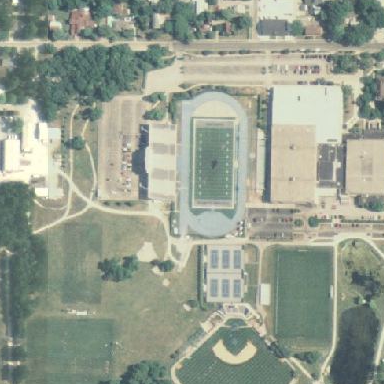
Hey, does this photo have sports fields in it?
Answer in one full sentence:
Yes, a sports field is visible in the scene.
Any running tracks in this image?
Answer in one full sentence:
Yes, the frame does contain a running track.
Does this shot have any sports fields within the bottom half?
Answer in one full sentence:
Yes, the scene does show a sports field within the bottom half.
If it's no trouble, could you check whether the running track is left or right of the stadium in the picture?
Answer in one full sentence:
The running track appears to the left of the stadium in this view.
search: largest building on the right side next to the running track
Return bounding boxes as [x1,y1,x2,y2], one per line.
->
[271,85,343,204]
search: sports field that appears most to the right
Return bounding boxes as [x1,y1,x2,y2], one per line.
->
[272,246,334,348]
